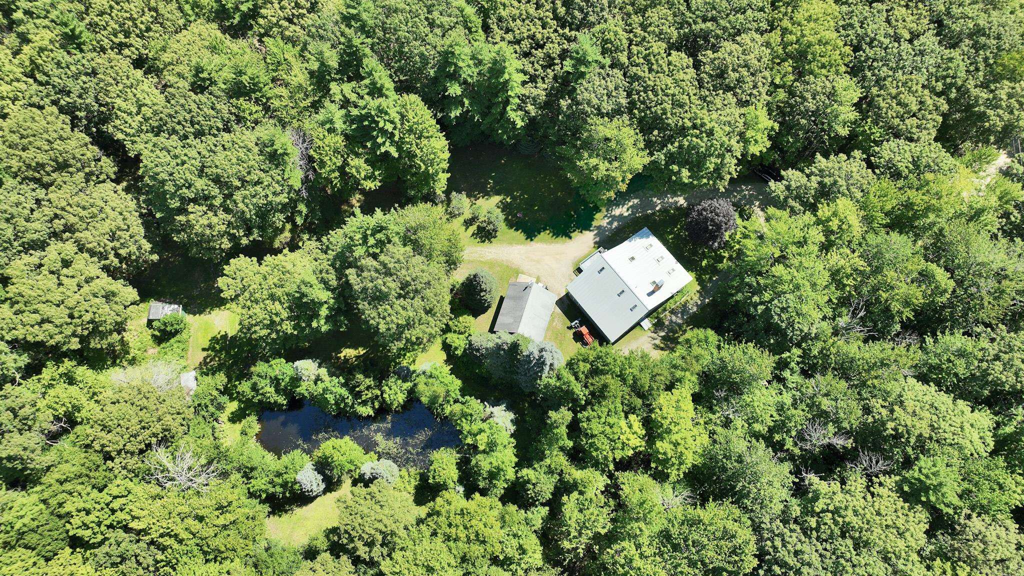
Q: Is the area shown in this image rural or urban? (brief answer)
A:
rural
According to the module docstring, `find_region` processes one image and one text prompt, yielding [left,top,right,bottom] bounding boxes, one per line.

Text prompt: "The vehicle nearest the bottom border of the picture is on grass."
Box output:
[569,320,597,350]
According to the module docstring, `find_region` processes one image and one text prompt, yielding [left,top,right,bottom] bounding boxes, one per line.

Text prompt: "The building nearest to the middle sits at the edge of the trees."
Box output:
[494,282,557,342]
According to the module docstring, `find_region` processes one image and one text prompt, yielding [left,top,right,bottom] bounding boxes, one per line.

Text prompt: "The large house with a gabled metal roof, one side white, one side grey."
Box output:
[565,227,693,344]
